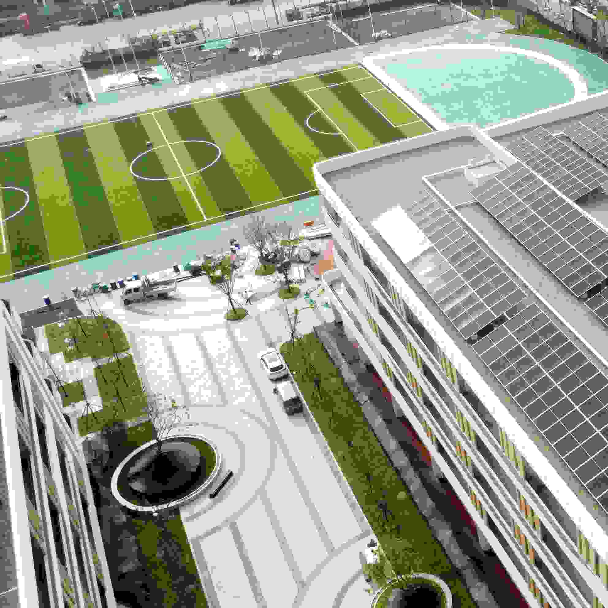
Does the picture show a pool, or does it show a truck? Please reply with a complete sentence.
Visible in the photo is a truck.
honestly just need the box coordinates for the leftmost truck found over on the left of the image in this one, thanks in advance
[117,268,177,303]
